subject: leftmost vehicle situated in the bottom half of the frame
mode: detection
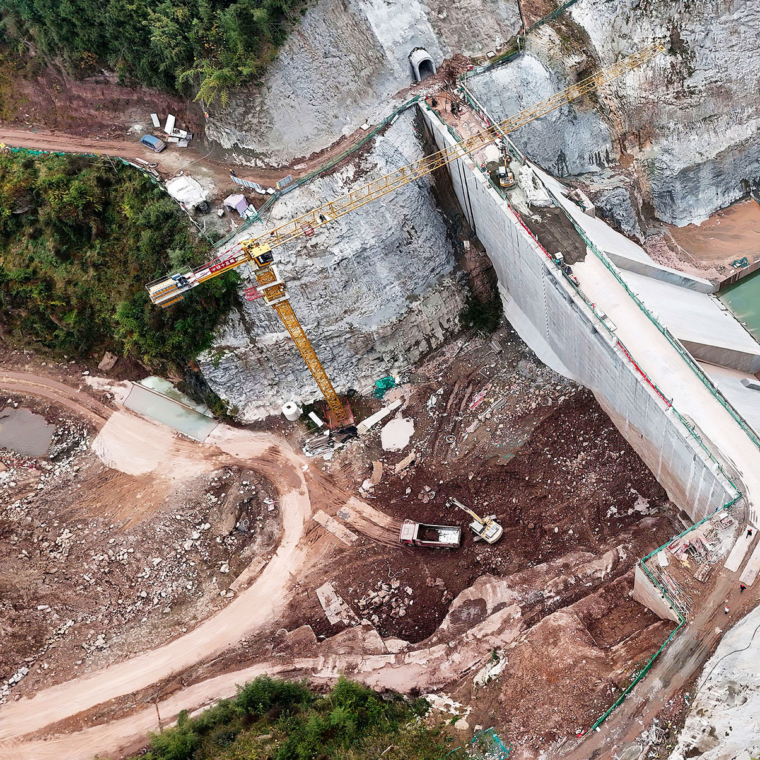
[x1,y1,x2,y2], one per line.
[396,517,460,543]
